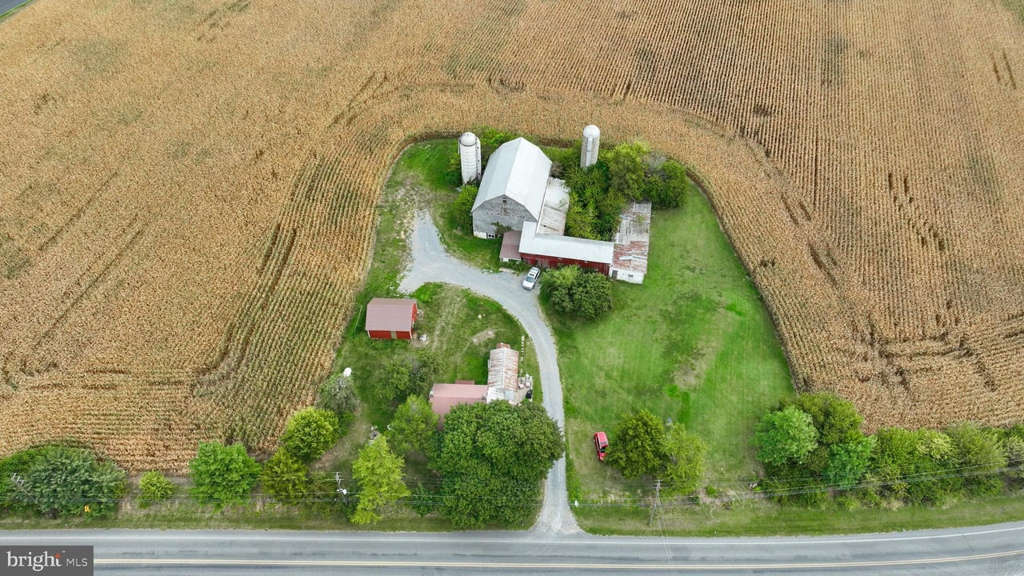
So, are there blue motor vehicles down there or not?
No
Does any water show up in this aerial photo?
No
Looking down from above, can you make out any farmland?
Yes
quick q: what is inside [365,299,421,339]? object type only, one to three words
shed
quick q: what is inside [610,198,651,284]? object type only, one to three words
shed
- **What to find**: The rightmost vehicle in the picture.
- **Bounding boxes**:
[593,433,613,464]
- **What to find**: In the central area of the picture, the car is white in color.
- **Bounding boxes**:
[520,267,541,291]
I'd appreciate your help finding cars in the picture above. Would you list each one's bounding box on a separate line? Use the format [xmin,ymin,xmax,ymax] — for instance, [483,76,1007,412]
[593,433,613,464]
[520,267,541,291]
